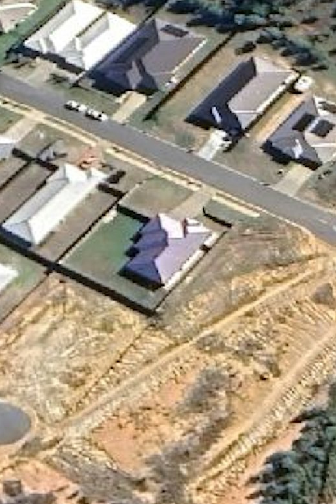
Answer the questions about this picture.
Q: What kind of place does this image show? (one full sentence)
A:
The area seen from above is a residential area.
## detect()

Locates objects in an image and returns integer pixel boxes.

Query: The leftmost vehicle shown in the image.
[67,98,89,111]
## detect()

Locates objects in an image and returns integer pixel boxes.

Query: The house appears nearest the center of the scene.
[121,207,216,295]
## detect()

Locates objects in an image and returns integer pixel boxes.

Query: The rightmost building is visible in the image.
[264,94,336,173]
